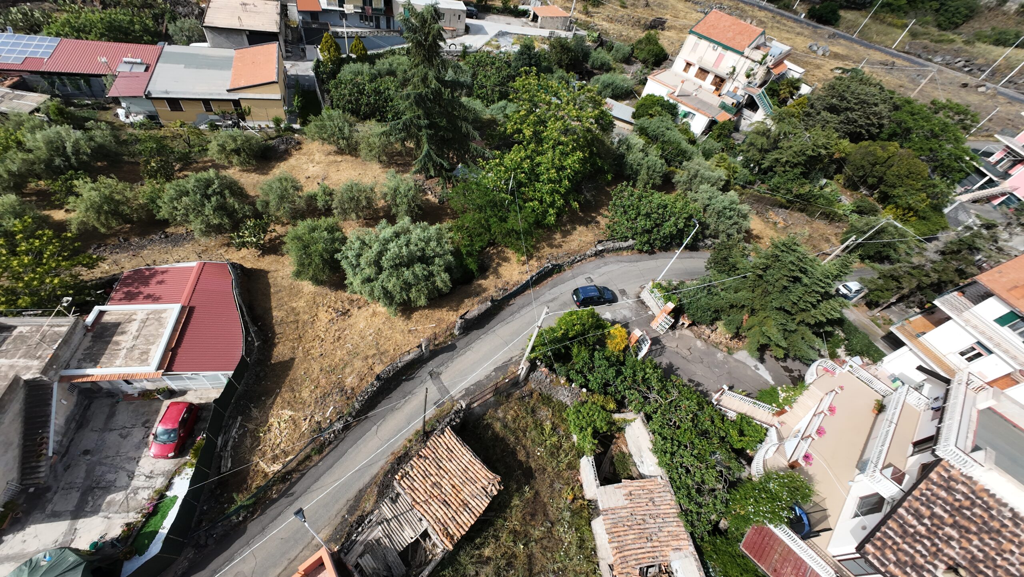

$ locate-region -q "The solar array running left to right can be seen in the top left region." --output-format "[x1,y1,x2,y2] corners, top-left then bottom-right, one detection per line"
[0,33,60,62]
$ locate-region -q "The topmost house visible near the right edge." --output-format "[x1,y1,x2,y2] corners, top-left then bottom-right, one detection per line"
[956,120,1024,228]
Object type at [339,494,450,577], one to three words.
shed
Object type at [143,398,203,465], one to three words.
car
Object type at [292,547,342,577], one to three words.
building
